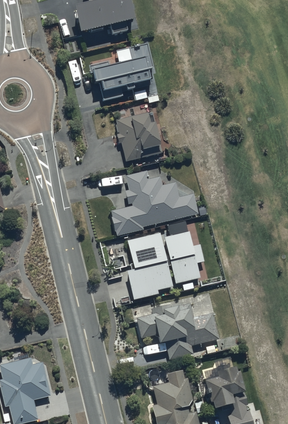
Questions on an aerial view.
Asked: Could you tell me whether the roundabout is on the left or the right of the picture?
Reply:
left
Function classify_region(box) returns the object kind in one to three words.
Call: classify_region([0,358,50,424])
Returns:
house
